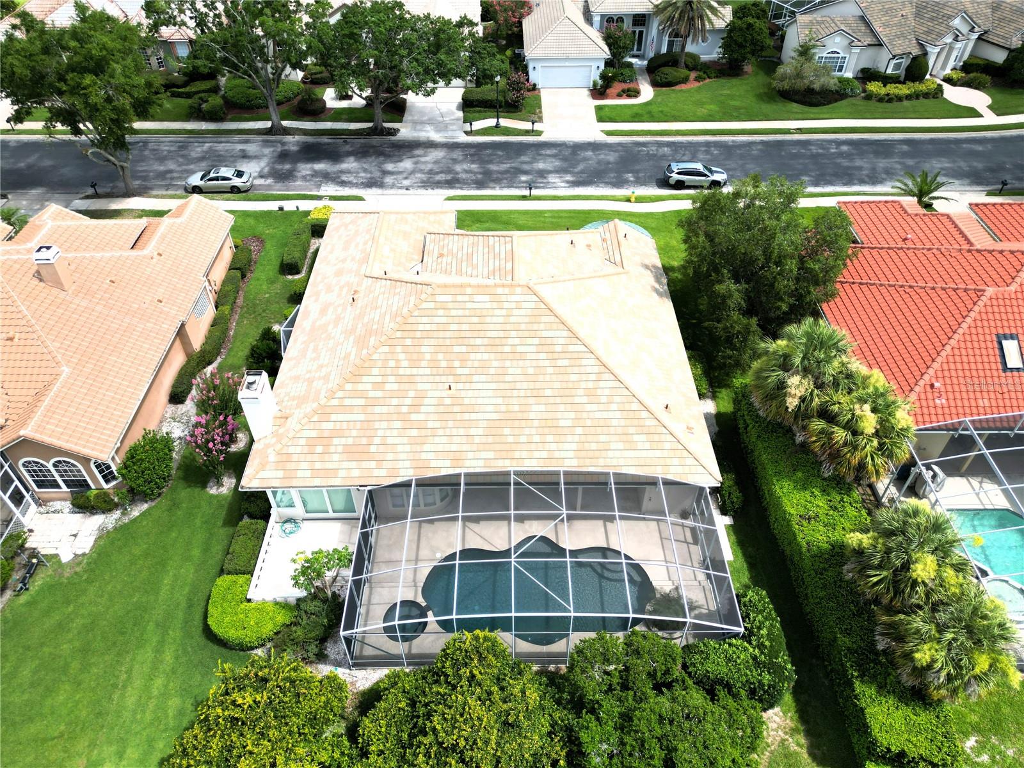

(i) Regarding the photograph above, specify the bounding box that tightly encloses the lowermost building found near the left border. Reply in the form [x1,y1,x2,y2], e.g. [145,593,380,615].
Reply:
[0,196,239,496]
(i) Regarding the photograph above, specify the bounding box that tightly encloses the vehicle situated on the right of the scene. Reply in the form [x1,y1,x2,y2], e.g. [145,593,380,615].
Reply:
[661,158,729,189]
